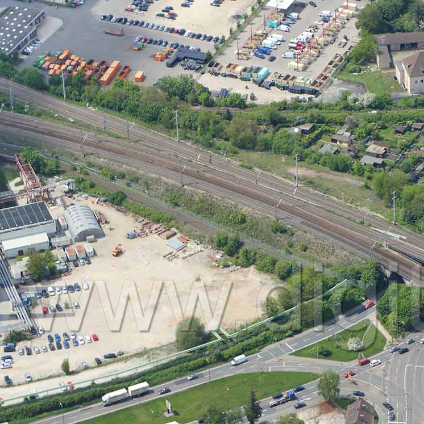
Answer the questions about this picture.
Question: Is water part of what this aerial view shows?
No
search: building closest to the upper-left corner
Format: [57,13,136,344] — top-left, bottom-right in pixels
[0,5,47,54]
